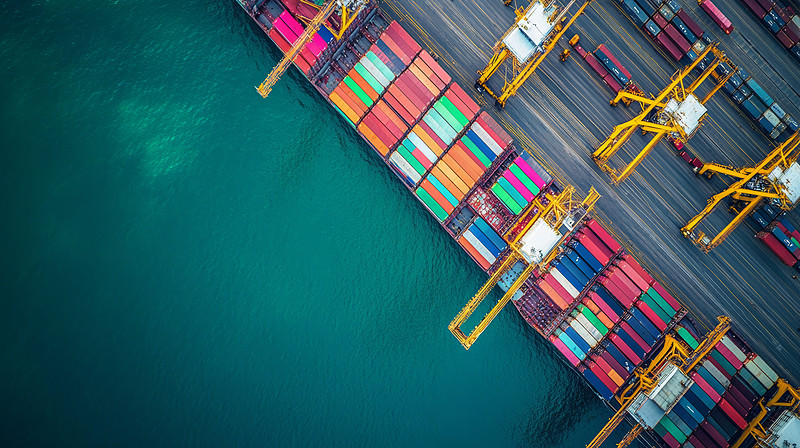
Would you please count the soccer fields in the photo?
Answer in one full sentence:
The picture shows no soccer fields.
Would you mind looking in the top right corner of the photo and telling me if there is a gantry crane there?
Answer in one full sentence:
Yes, a gantry crane is visible in the top right corner of the photo.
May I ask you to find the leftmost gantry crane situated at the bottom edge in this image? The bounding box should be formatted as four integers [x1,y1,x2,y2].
[585,314,733,448]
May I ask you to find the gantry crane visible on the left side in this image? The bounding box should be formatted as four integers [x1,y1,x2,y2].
[253,0,379,100]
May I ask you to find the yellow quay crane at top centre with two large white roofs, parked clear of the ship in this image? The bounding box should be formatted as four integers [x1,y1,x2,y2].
[472,0,592,109]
